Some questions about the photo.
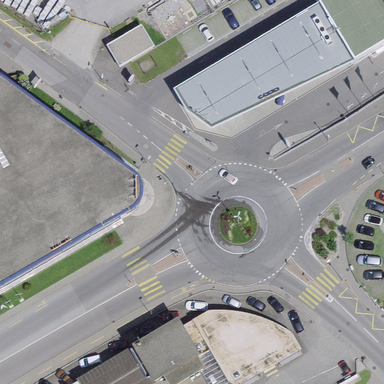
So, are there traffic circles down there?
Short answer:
Yes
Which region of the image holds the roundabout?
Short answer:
center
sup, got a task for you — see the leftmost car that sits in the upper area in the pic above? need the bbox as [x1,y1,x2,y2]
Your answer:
[198,23,213,42]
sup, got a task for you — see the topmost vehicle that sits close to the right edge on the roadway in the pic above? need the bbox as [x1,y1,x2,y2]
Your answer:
[360,156,376,169]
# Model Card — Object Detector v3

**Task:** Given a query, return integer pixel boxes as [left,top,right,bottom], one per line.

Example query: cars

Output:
[362,270,384,280]
[354,224,376,236]
[198,23,213,42]
[105,338,129,352]
[245,294,266,312]
[221,293,242,309]
[266,294,284,314]
[360,156,376,169]
[337,358,352,377]
[248,0,260,10]
[374,190,384,202]
[221,7,238,30]
[364,198,384,214]
[356,255,381,266]
[52,365,70,384]
[159,309,180,323]
[286,310,304,333]
[362,212,383,226]
[218,170,238,186]
[185,300,208,310]
[264,0,274,6]
[353,240,374,250]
